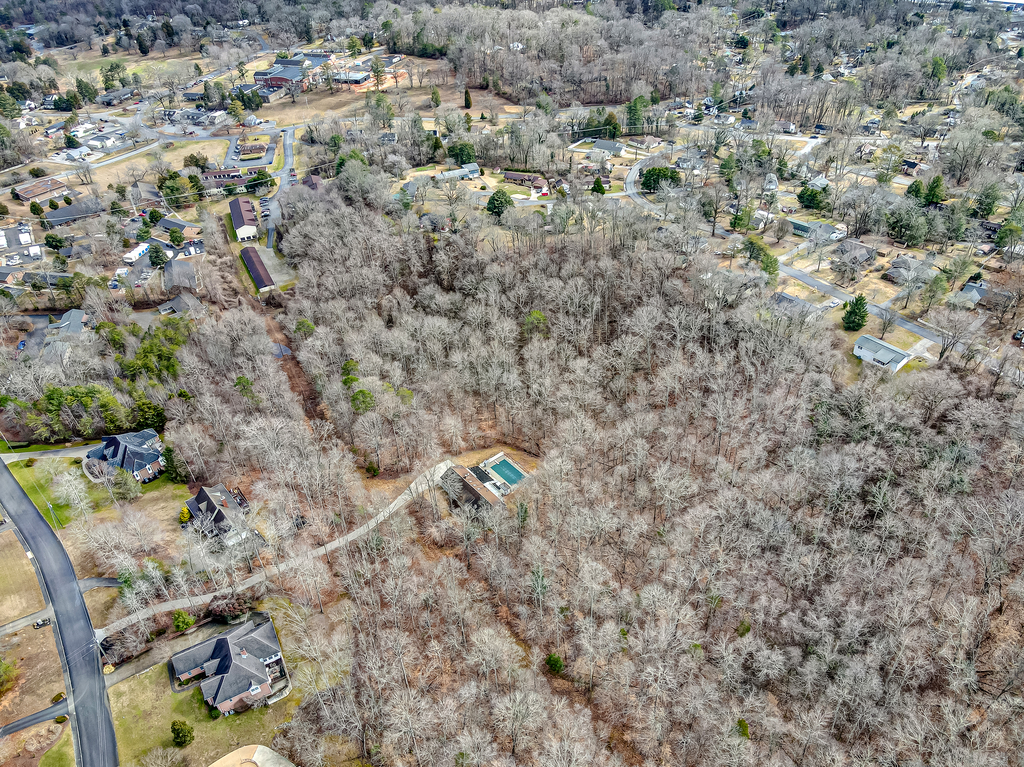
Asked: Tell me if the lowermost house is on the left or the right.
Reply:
left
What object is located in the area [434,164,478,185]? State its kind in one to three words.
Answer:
house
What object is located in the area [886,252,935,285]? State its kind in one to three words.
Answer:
house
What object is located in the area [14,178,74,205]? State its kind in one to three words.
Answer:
building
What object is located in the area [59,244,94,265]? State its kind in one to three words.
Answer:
building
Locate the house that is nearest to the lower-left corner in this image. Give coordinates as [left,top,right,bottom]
[172,610,281,711]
